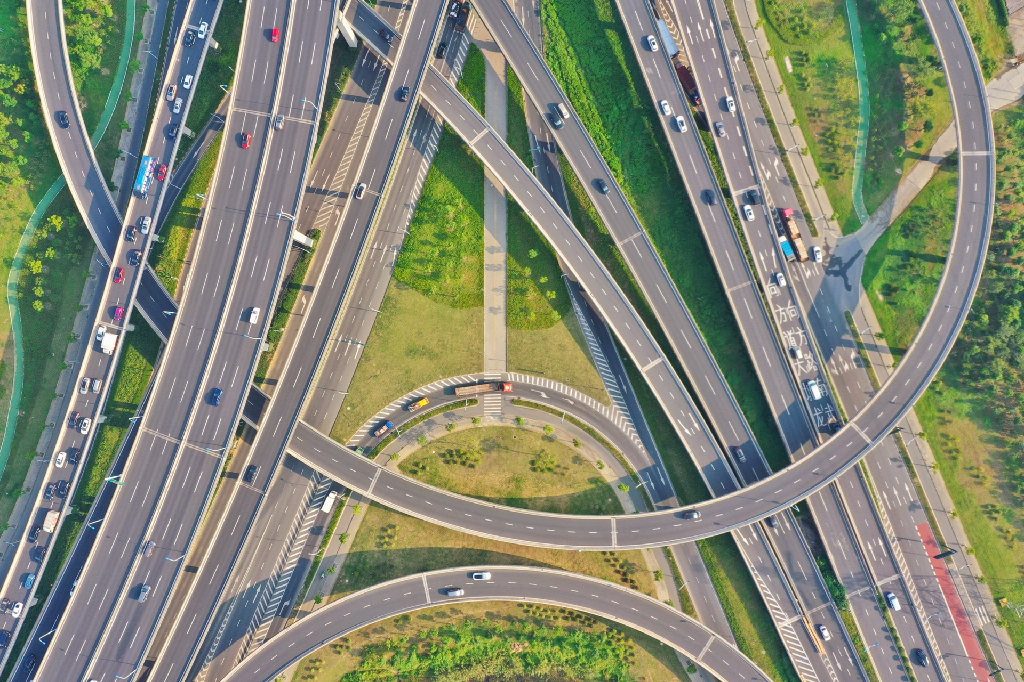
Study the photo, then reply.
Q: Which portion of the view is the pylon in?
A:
bottom right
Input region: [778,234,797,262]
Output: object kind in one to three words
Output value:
vehicle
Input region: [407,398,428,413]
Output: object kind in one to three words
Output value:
vehicle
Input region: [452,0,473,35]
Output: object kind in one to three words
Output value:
truck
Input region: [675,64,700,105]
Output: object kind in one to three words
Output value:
truck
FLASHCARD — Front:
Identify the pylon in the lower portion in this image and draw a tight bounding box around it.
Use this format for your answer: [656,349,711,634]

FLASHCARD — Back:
[999,602,1024,654]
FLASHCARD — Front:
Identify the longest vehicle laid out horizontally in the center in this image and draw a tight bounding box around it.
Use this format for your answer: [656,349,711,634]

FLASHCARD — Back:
[454,382,511,395]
